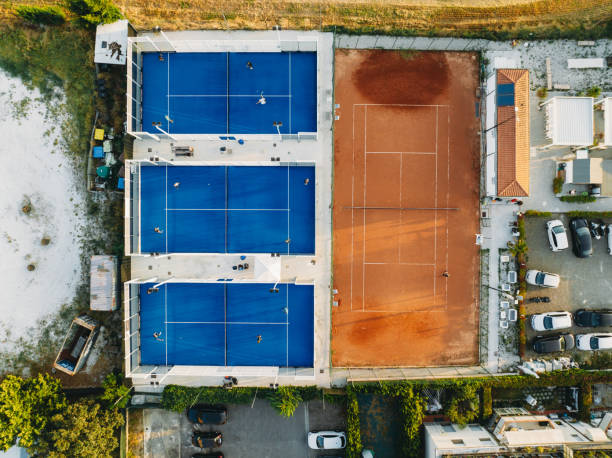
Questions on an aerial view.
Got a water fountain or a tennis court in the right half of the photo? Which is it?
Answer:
tennis court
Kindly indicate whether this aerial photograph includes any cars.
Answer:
Yes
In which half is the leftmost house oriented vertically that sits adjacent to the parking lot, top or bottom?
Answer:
top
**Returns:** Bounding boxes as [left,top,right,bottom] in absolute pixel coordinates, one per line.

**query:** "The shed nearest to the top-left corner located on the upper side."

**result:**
[94,20,137,71]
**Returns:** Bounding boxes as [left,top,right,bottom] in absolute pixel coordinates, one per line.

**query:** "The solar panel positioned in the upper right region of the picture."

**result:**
[498,81,515,107]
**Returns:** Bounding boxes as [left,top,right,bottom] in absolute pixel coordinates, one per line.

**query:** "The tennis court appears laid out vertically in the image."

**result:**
[331,49,481,368]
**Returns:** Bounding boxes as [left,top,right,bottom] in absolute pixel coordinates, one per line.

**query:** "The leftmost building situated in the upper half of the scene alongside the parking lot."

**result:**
[488,68,531,197]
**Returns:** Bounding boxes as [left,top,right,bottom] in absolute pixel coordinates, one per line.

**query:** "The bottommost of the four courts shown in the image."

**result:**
[124,277,317,380]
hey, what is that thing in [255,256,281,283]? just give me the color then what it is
white umbrella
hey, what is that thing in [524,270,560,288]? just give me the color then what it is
white car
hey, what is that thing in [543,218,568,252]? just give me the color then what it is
white car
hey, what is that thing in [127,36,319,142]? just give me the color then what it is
blue sports court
